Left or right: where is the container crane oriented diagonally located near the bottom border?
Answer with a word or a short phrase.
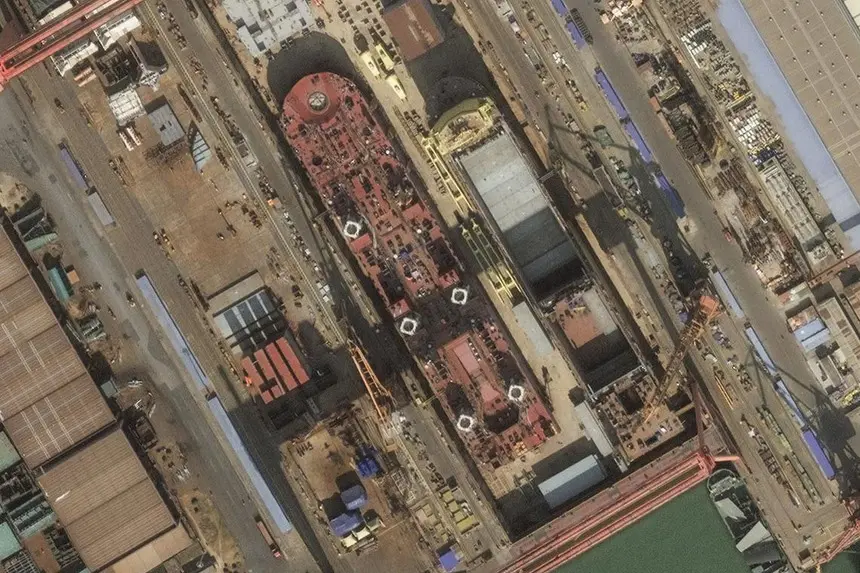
right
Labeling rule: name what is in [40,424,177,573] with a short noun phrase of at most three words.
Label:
building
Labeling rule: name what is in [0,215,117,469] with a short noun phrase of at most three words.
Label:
building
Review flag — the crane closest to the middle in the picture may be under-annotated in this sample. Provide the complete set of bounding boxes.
[346,334,405,456]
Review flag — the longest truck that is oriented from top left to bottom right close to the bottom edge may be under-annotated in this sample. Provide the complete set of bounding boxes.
[255,520,281,557]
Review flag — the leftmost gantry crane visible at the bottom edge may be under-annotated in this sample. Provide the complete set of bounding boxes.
[496,365,750,573]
